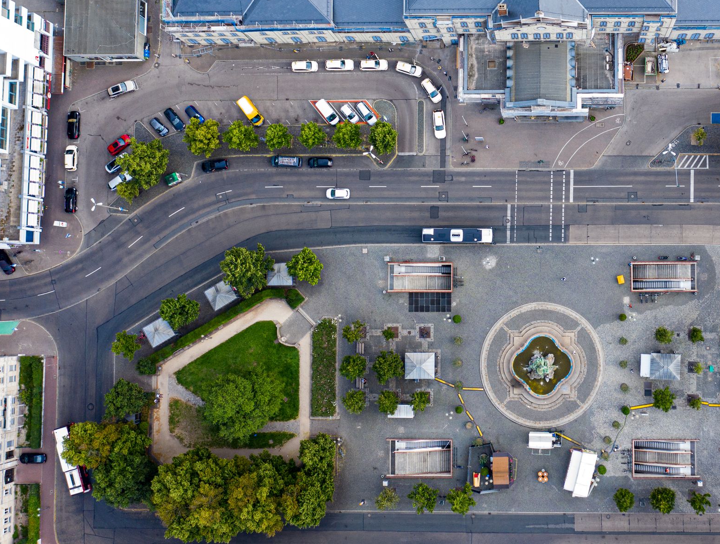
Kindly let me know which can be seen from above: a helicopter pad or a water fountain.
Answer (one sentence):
Looking from above, you can make out a water fountain.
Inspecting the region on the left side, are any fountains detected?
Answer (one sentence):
No, no fountain appears on the left side.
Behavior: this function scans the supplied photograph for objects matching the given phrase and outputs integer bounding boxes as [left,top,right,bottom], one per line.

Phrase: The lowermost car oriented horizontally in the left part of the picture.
[20,453,47,465]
